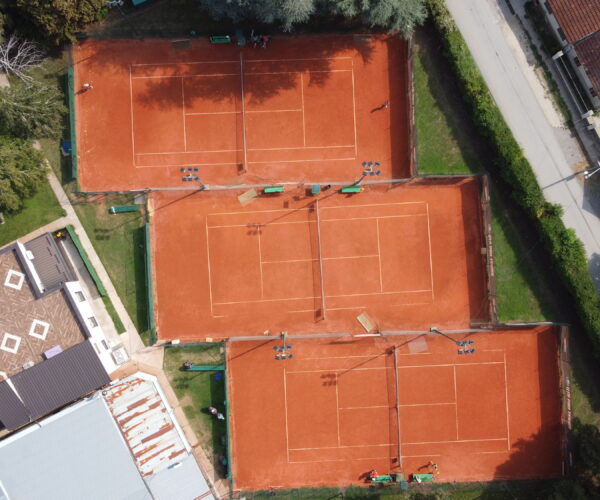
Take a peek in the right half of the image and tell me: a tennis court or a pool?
tennis court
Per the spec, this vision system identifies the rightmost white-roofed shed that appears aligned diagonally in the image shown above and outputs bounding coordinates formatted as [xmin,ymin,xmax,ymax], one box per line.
[98,370,219,500]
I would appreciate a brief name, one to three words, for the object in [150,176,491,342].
tennis court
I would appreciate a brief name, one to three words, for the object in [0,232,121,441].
building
